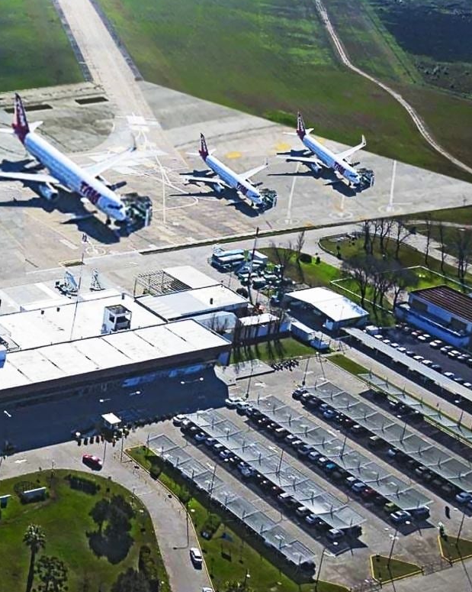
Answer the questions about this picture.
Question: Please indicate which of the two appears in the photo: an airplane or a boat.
airplane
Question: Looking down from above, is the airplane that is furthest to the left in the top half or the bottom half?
top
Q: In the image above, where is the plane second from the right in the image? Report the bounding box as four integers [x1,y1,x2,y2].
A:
[174,132,267,208]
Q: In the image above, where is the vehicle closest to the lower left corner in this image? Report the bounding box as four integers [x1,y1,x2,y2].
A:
[83,455,101,468]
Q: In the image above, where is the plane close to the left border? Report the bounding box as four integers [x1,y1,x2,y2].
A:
[0,91,133,228]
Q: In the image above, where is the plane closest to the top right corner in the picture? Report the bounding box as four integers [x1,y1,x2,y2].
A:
[272,111,365,186]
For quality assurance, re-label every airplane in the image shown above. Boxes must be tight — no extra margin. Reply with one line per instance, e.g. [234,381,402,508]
[272,111,365,186]
[174,132,267,208]
[0,91,133,228]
